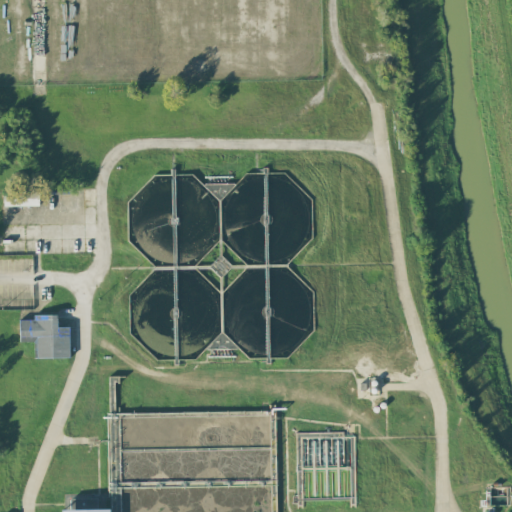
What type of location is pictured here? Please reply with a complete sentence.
It's an industrial area.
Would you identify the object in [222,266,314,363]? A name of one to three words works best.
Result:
storage tank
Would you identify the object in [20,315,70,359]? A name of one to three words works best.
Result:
house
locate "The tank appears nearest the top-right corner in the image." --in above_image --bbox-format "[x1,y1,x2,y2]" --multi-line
[221,166,314,266]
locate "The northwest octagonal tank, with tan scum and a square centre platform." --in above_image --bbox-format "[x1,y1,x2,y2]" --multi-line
[129,168,221,267]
